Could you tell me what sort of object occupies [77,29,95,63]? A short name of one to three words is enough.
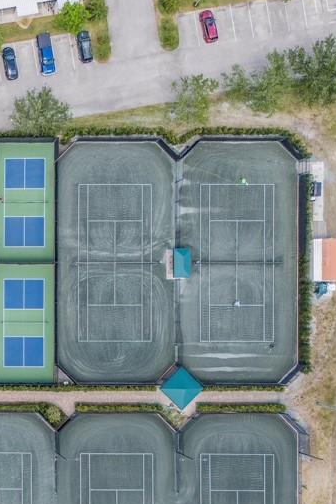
car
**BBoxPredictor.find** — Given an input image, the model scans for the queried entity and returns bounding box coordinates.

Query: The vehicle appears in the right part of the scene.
[201,9,220,43]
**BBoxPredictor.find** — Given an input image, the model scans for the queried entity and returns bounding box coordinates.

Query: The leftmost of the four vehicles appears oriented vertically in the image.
[2,46,19,80]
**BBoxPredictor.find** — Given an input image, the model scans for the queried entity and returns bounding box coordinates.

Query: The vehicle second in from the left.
[38,32,58,75]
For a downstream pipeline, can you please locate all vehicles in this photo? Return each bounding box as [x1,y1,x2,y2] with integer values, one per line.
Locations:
[2,46,19,80]
[77,29,95,63]
[201,9,220,43]
[38,32,58,75]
